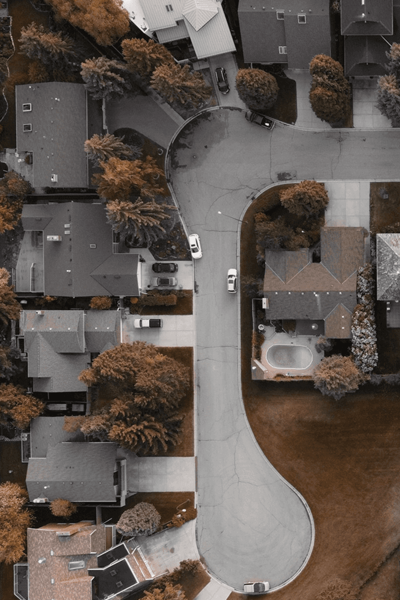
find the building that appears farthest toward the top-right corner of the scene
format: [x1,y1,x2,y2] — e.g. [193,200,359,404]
[340,0,400,79]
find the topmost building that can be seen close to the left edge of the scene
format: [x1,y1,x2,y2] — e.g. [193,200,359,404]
[15,81,96,192]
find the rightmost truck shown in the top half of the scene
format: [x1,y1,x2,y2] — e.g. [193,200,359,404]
[244,108,277,132]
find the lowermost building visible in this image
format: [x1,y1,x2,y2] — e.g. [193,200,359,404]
[28,521,159,600]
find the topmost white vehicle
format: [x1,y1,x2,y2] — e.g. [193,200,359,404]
[188,233,205,260]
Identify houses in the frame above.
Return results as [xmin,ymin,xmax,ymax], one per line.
[28,521,159,600]
[376,233,400,301]
[340,0,400,79]
[238,0,332,73]
[258,225,365,339]
[14,310,128,392]
[16,201,146,296]
[121,0,242,63]
[26,417,134,504]
[15,81,96,192]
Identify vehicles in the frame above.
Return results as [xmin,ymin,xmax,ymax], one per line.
[244,108,277,132]
[243,582,271,594]
[214,67,231,95]
[135,317,165,329]
[152,275,179,288]
[188,233,205,260]
[225,268,240,294]
[152,261,179,273]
